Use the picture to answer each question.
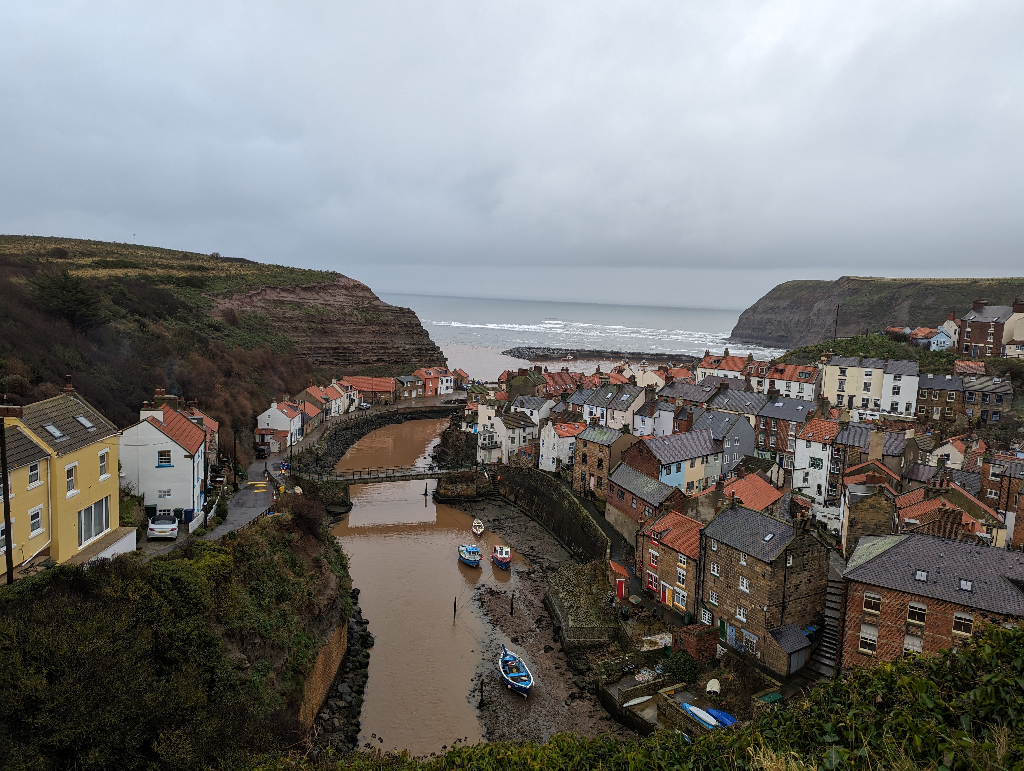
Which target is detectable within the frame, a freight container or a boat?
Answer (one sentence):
The one in the frame is a boat.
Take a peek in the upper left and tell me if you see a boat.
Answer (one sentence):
No, there's no boat to be seen in the upper left.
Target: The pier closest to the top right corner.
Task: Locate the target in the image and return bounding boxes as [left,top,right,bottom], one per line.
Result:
[530,349,701,367]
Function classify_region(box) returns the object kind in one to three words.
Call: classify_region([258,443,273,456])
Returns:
vehicle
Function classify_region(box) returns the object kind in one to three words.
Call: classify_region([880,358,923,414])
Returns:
house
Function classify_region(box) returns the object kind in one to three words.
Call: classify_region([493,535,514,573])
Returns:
boat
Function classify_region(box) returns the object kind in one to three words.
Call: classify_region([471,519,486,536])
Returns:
boat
